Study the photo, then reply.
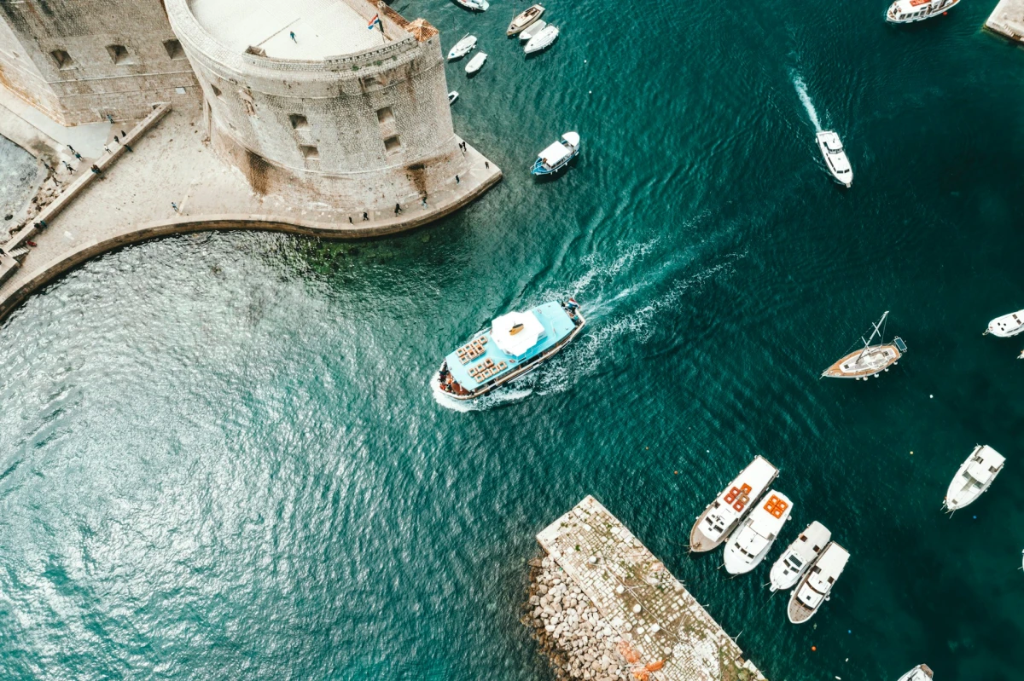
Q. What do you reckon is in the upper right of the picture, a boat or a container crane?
boat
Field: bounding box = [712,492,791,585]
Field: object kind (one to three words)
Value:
boat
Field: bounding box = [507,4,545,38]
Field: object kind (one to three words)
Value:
boat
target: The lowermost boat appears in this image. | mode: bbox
[893,658,934,681]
